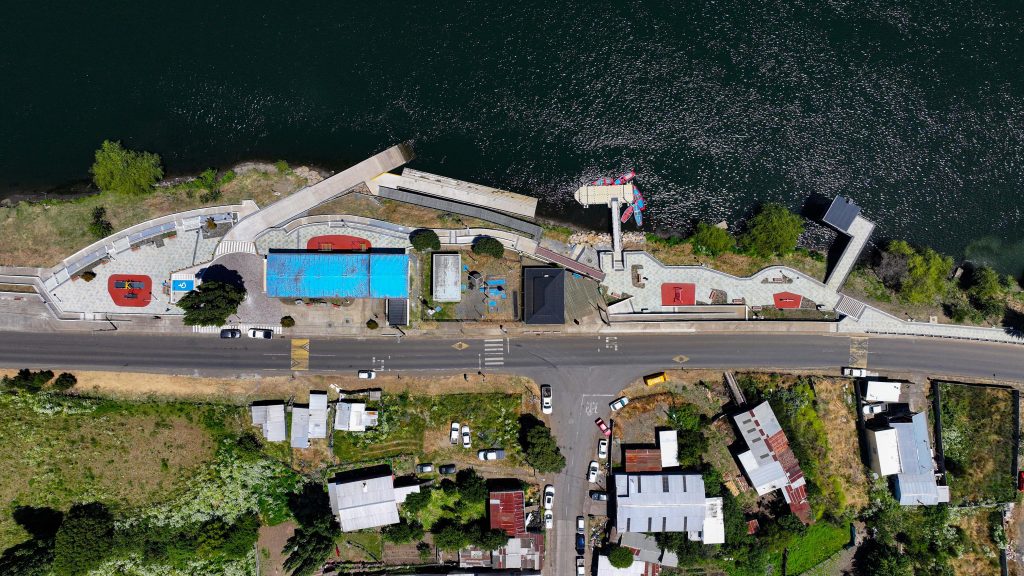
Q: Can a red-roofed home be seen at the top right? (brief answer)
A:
No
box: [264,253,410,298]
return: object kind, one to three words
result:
building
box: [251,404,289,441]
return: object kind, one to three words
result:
house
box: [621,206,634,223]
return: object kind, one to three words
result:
boat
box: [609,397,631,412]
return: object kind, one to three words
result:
car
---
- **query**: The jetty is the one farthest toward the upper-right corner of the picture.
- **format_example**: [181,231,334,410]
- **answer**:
[824,215,875,293]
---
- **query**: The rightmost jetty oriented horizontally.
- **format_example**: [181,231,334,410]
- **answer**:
[575,182,634,208]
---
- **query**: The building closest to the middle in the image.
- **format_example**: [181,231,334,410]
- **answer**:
[525,268,565,324]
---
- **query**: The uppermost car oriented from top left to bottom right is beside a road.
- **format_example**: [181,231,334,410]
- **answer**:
[595,417,612,438]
